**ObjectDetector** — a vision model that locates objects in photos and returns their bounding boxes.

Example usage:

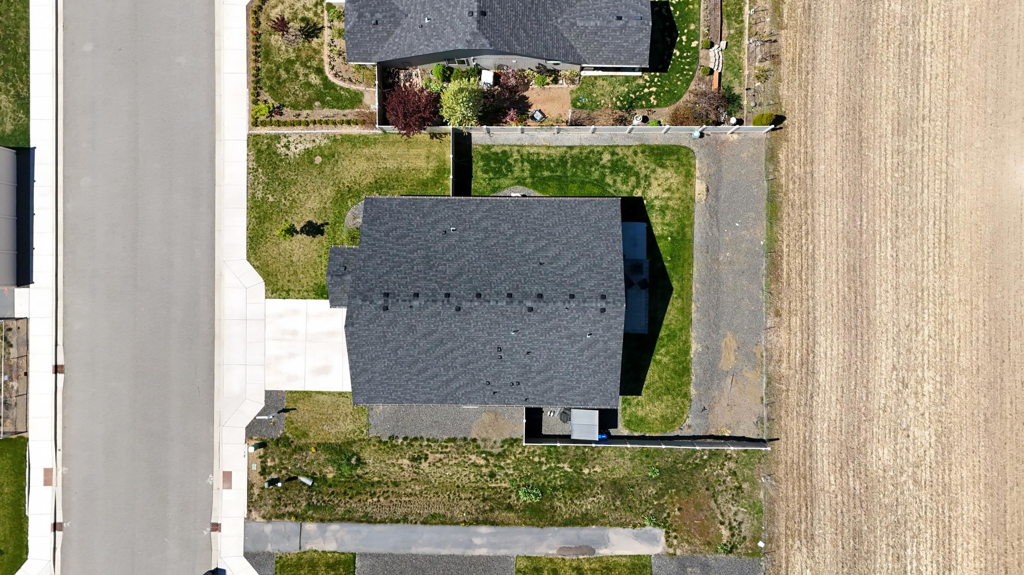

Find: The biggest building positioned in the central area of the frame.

[326,194,628,410]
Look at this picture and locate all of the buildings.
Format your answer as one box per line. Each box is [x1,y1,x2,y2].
[326,194,628,410]
[343,0,652,74]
